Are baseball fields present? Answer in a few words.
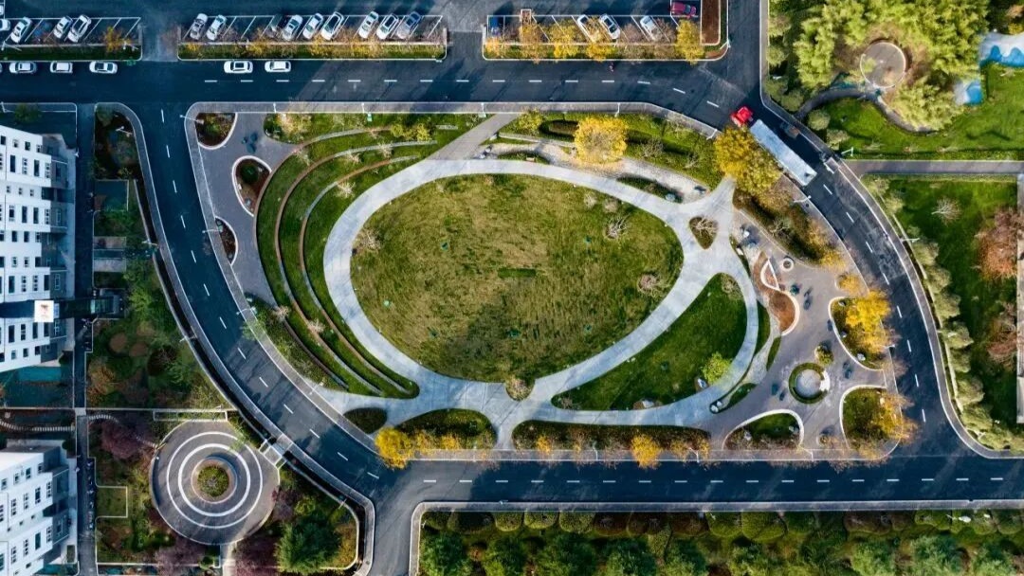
No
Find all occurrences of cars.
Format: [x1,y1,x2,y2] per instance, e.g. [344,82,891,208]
[10,15,34,45]
[639,14,661,43]
[206,13,228,43]
[0,19,11,32]
[302,12,324,41]
[32,16,54,40]
[598,13,621,42]
[358,11,380,40]
[9,61,40,75]
[52,12,75,42]
[89,61,120,75]
[265,60,292,74]
[188,12,211,42]
[399,11,421,40]
[50,61,76,74]
[668,2,698,18]
[224,59,254,74]
[323,12,344,41]
[282,13,305,43]
[264,11,287,41]
[488,12,500,37]
[68,14,93,44]
[377,12,399,42]
[575,14,595,44]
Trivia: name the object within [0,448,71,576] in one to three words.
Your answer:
building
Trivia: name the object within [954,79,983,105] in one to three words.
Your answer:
playground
